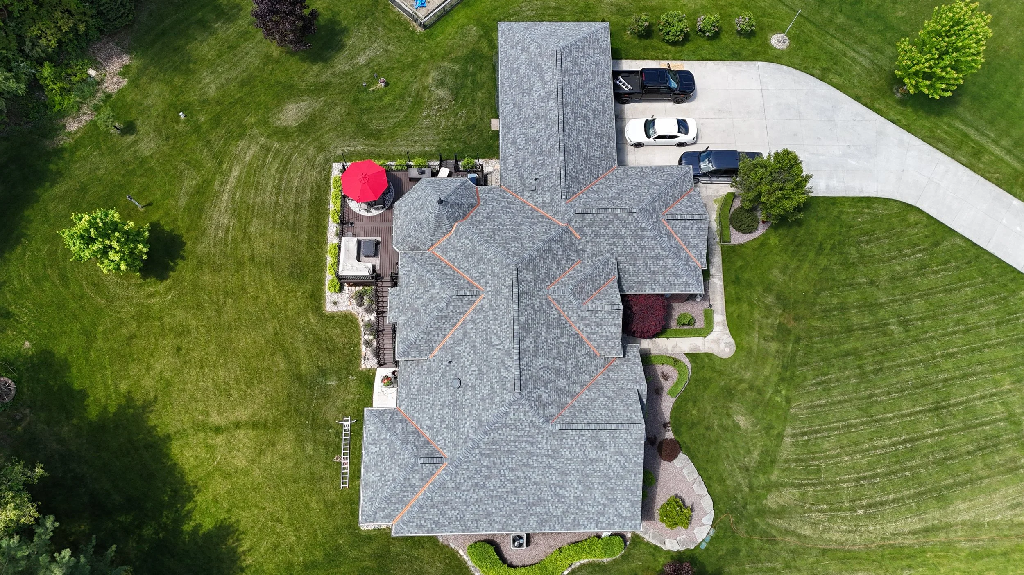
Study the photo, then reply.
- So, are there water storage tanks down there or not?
No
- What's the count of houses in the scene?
one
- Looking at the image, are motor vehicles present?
Yes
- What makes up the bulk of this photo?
grass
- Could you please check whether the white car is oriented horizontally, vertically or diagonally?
horizontally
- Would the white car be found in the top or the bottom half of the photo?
top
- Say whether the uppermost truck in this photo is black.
Yes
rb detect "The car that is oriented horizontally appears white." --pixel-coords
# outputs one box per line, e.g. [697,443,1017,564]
[624,114,698,147]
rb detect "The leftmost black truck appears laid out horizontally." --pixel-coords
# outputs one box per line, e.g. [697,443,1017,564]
[613,65,697,103]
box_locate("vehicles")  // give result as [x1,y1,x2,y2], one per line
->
[613,65,697,103]
[675,145,765,183]
[624,114,698,147]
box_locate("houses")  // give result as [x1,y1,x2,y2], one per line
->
[356,19,710,539]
